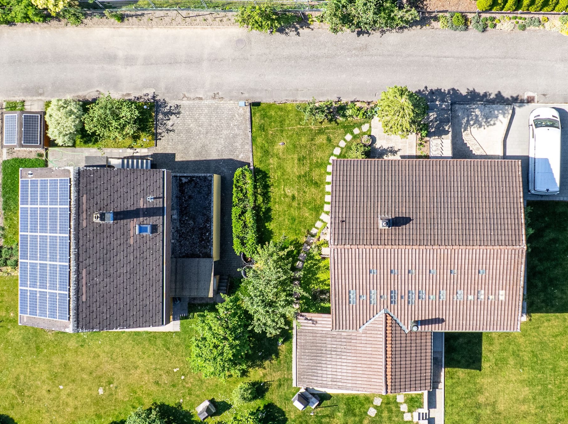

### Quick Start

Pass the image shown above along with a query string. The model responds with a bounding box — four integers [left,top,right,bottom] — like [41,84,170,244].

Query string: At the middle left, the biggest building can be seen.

[18,155,232,333]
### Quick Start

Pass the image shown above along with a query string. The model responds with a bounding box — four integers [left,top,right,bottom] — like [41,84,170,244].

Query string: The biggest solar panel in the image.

[24,114,41,143]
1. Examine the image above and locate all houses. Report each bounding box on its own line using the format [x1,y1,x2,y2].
[292,158,527,396]
[18,155,232,333]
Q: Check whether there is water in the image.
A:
No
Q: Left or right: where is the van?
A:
right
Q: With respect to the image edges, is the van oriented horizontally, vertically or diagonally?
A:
vertically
